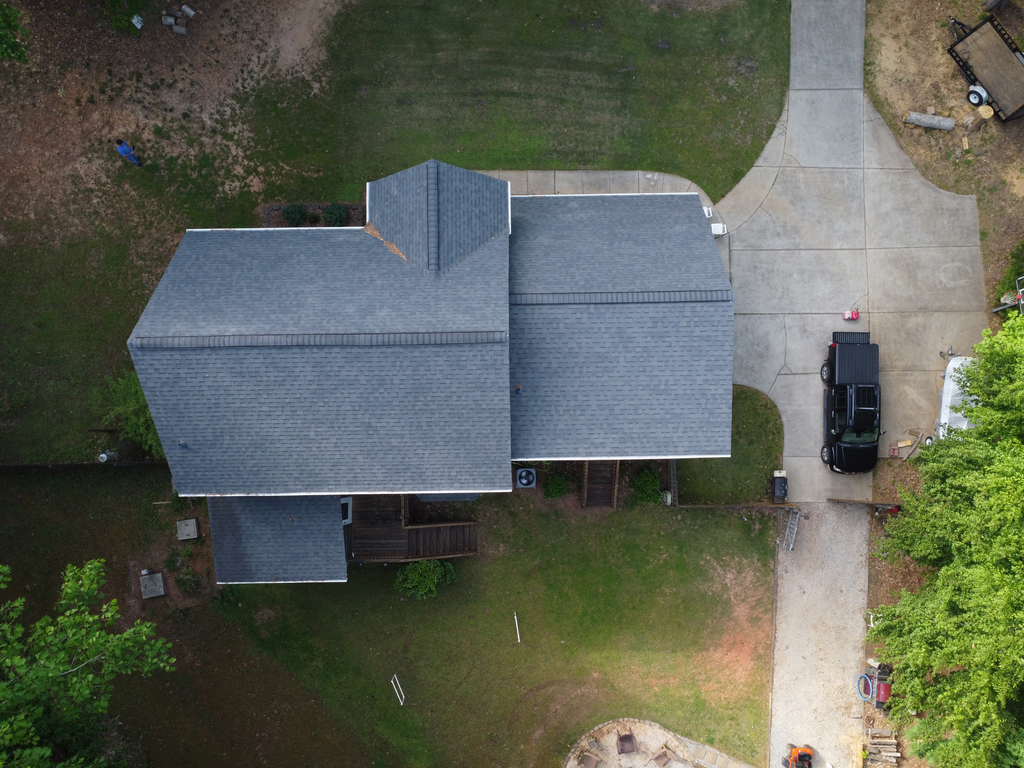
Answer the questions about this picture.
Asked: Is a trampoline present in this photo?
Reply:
No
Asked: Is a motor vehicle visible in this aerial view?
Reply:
Yes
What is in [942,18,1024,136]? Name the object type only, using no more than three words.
trailer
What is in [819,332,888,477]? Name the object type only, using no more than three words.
truck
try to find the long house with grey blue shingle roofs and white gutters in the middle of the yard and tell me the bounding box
[128,160,733,586]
